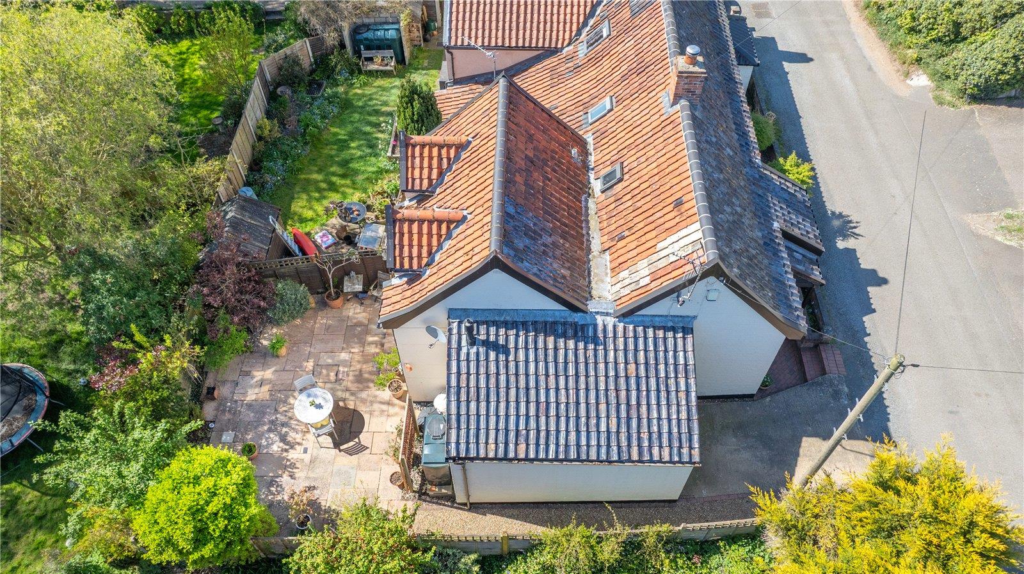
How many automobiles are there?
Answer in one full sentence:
The count of automobiles is 0.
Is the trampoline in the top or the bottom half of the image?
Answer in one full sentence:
It is in the bottom half that the trampoline appears.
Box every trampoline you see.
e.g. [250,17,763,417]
[0,355,68,473]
